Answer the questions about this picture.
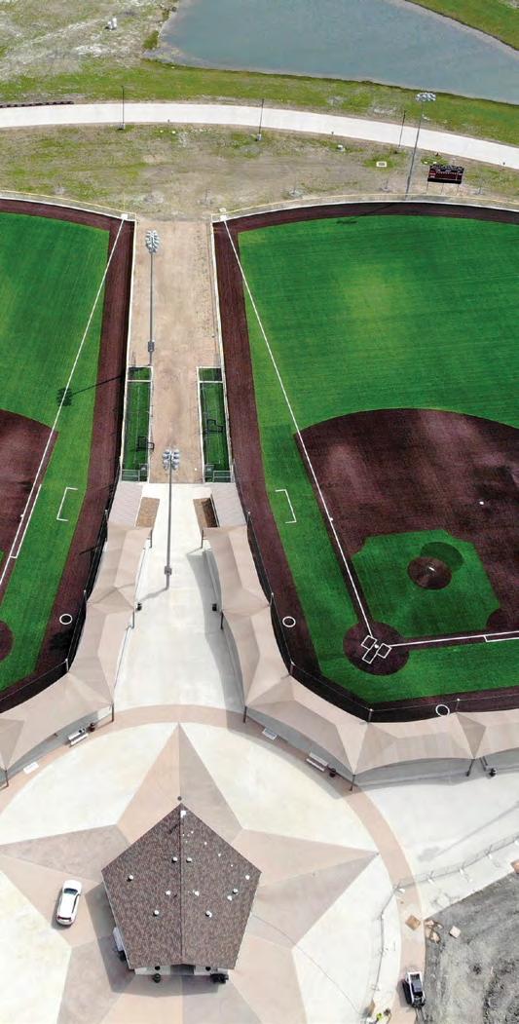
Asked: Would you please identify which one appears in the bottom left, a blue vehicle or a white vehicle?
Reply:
white vehicle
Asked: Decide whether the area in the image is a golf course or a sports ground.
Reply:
sports ground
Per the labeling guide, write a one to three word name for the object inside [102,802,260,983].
building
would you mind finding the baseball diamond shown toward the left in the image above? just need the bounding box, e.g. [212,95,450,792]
[0,199,133,699]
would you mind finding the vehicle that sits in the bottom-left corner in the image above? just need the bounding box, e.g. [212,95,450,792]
[53,874,83,926]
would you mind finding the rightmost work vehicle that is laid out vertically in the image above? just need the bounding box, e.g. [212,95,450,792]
[400,966,427,1022]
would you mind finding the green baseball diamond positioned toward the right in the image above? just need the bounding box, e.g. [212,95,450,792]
[214,202,519,720]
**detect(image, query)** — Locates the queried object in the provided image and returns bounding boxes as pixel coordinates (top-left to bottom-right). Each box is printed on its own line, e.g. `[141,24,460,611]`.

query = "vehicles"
[400,966,427,1022]
[53,874,83,926]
